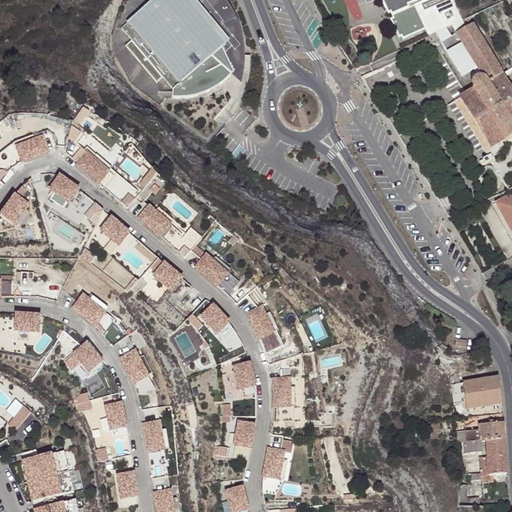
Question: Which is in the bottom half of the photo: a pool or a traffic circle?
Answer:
pool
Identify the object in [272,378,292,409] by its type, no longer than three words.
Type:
house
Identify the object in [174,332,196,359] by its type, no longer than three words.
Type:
swimming pool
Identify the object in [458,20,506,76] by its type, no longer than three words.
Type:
building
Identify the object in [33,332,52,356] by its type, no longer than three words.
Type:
swimming pool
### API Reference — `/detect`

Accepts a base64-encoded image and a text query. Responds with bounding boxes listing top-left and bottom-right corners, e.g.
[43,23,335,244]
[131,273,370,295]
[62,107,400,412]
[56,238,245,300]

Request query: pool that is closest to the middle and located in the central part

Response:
[208,228,224,244]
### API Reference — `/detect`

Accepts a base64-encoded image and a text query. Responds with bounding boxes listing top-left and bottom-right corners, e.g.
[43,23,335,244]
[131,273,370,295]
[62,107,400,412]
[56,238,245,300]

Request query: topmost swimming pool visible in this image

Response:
[120,156,142,181]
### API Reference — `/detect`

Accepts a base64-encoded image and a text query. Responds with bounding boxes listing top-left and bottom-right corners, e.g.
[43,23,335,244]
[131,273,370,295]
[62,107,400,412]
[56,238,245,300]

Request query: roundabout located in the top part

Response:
[265,70,336,142]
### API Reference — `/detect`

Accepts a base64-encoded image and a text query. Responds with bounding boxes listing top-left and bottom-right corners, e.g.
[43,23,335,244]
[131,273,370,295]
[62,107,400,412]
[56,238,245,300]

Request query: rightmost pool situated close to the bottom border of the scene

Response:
[281,482,302,497]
